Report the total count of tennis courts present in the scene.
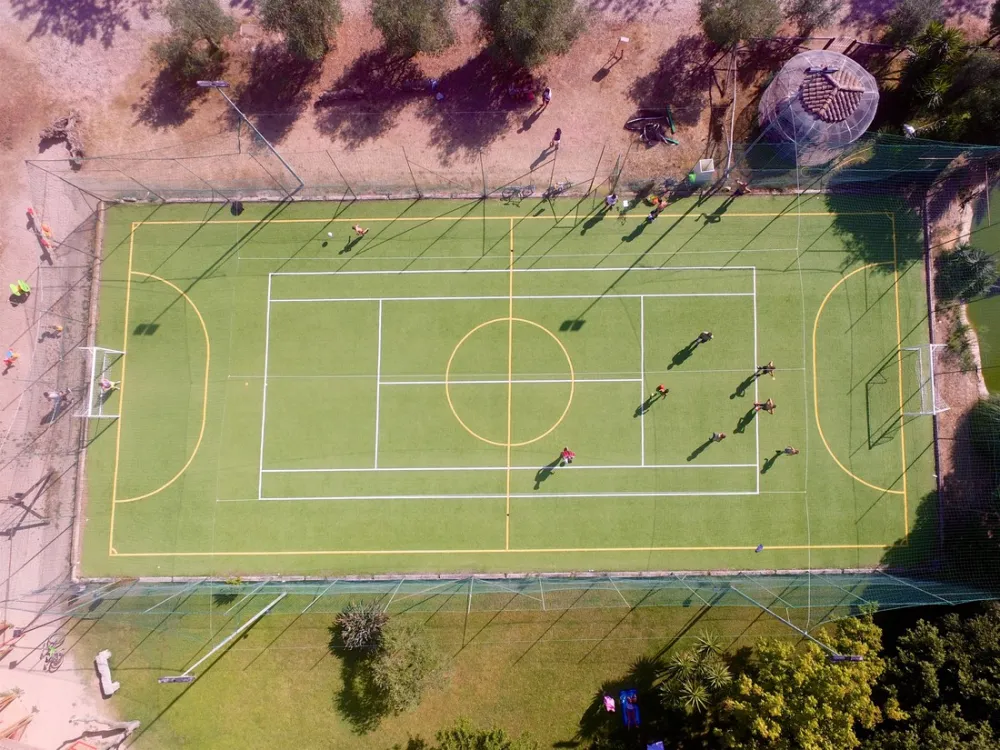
1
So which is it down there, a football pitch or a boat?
football pitch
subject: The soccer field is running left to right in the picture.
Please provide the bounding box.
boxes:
[80,194,939,577]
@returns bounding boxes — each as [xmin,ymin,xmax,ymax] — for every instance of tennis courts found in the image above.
[259,267,760,499]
